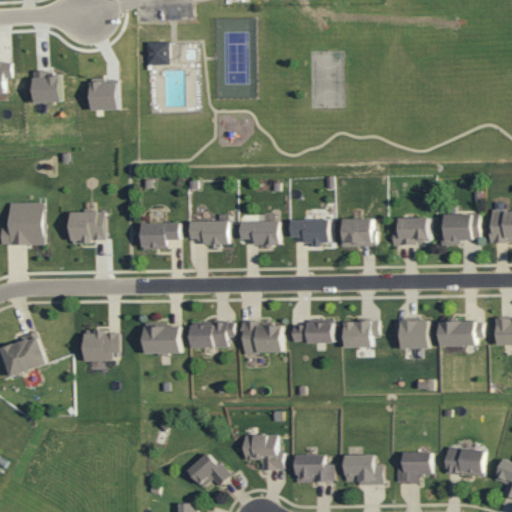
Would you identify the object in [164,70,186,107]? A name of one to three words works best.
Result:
swimming pool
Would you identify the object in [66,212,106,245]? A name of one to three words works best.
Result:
house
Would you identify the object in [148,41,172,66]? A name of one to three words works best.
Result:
building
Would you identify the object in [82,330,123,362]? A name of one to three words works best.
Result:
house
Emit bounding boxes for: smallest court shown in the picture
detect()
[312,51,346,108]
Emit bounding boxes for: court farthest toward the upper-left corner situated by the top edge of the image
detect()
[216,18,258,100]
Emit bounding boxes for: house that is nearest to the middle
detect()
[238,222,282,247]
